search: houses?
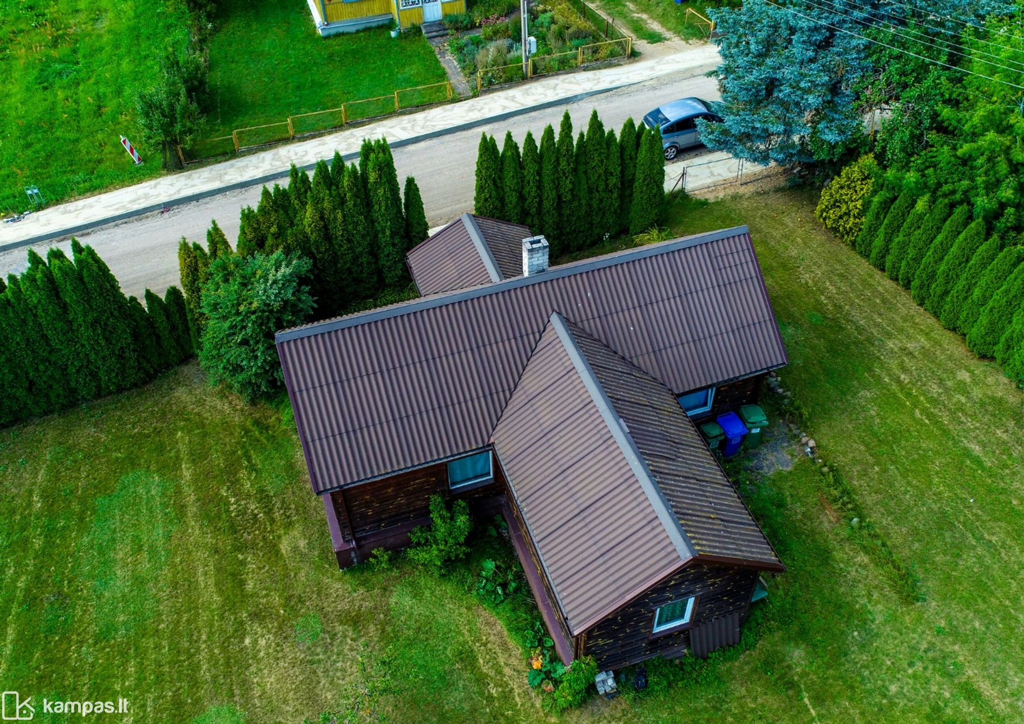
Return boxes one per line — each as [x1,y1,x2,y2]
[275,210,789,692]
[296,0,470,35]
